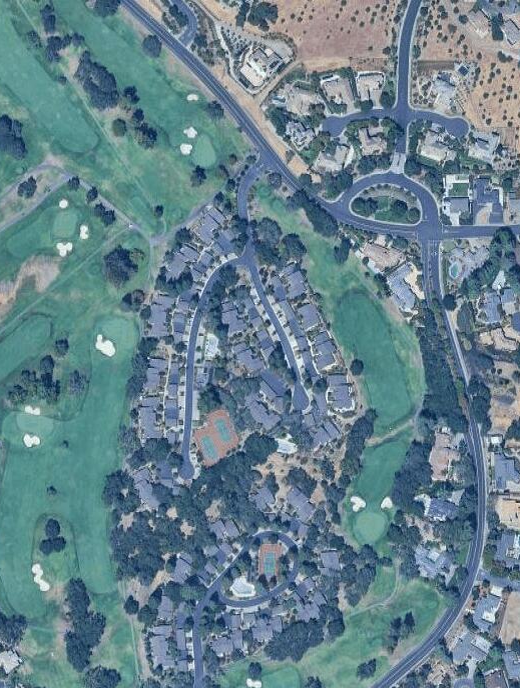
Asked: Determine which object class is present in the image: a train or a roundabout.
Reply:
roundabout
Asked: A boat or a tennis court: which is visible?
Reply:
tennis court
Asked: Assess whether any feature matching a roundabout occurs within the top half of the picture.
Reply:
Yes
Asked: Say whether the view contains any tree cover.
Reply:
Yes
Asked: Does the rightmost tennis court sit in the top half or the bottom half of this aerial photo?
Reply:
bottom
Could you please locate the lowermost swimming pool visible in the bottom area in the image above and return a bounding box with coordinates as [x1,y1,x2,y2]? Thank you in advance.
[232,577,251,595]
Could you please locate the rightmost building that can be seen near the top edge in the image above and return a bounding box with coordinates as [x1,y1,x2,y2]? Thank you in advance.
[500,14,520,46]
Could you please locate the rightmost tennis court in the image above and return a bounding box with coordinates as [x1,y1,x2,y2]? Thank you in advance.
[259,545,282,578]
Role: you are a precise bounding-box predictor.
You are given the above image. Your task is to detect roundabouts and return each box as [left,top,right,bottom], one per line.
[336,171,435,230]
